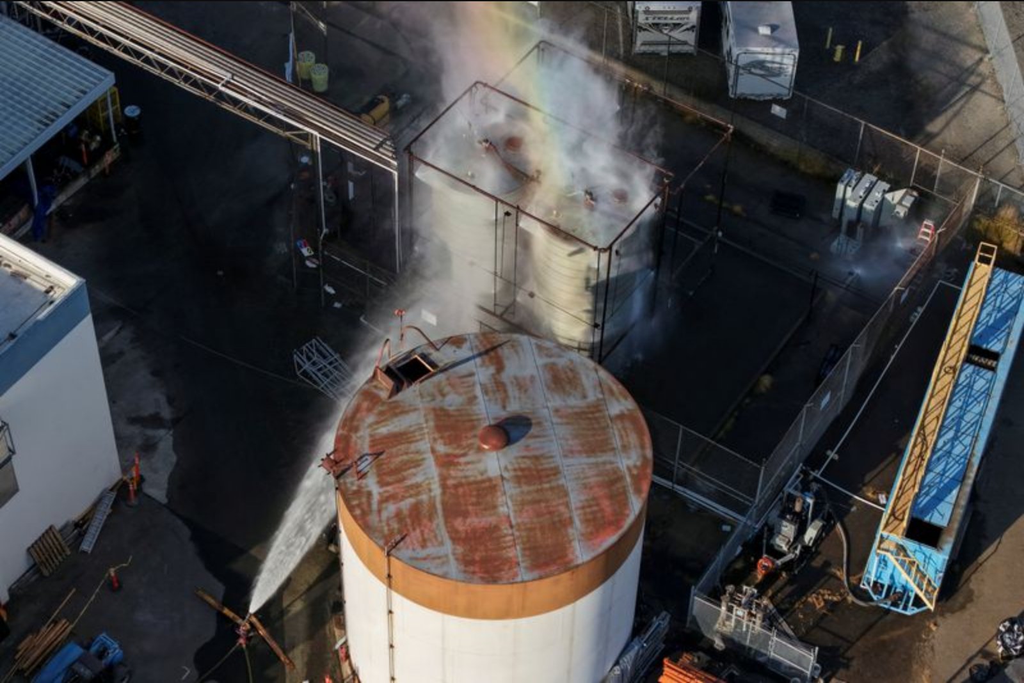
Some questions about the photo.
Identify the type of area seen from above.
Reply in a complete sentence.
This looks like an industrial area.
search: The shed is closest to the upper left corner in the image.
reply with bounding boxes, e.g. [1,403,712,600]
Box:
[0,9,128,216]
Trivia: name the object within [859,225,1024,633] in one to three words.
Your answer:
trailer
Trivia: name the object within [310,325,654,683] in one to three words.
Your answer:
storage tank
